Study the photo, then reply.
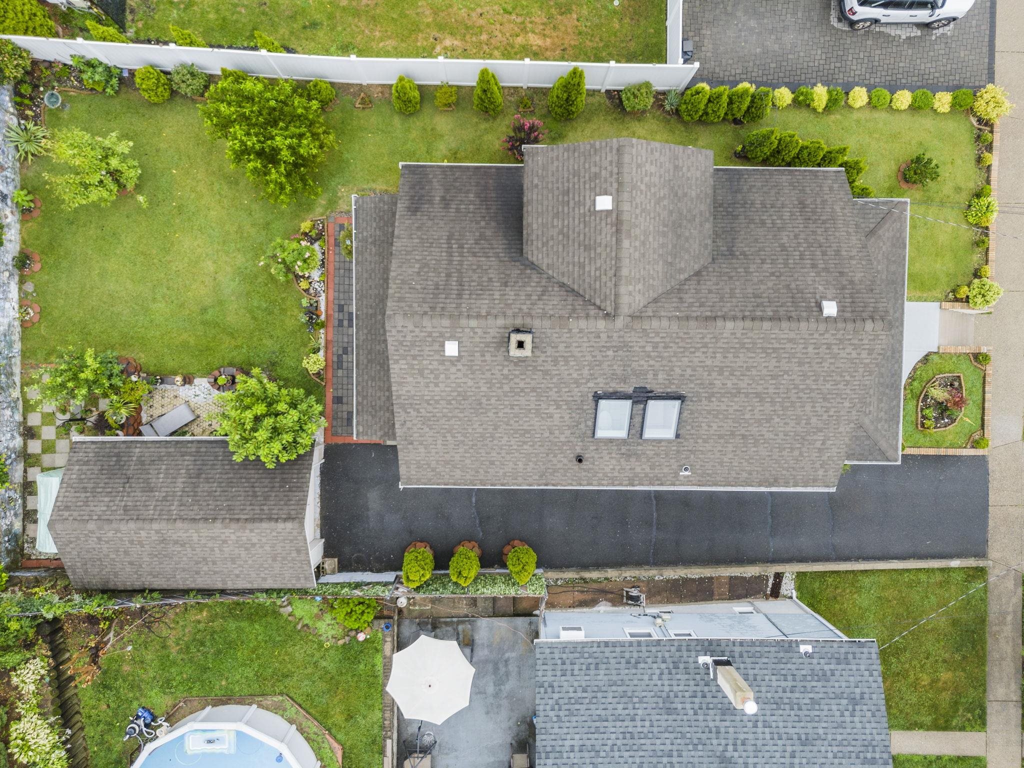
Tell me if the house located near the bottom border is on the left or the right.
right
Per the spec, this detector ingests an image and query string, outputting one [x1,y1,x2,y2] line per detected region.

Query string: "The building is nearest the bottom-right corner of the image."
[534,604,892,768]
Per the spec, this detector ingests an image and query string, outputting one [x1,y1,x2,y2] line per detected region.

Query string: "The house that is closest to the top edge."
[350,133,908,495]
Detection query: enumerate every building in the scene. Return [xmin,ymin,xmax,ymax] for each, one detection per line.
[534,604,892,768]
[350,133,908,495]
[47,437,325,589]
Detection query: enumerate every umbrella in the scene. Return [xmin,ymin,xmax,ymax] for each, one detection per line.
[386,635,475,751]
